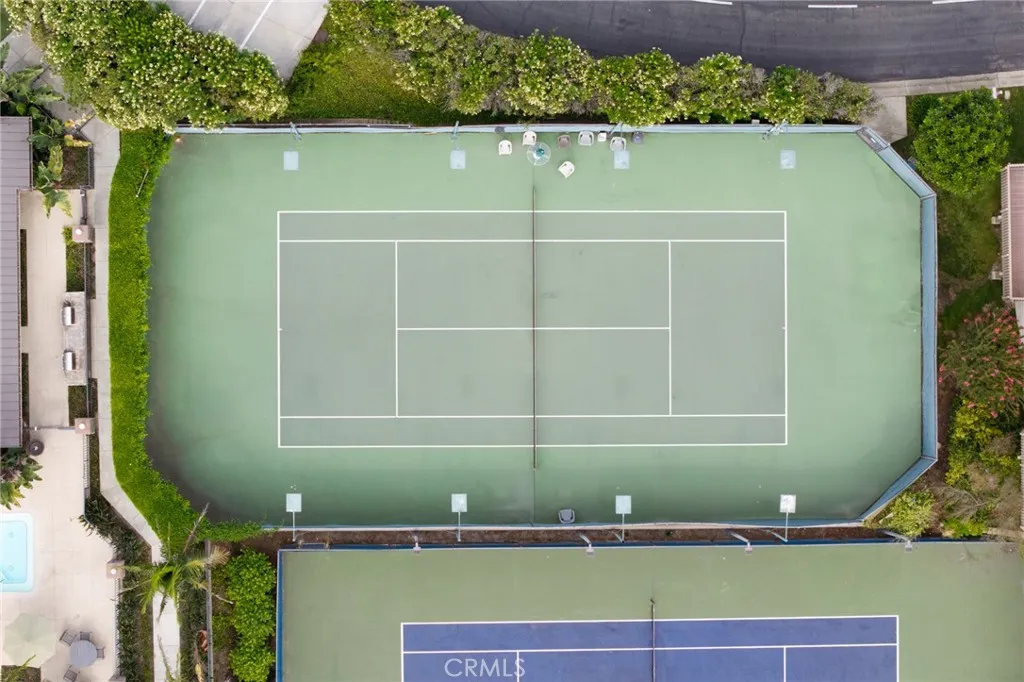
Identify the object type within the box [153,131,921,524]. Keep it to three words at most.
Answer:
tennis court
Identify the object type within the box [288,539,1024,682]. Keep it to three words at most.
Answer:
tennis court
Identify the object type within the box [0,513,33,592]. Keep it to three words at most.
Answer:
swimming pool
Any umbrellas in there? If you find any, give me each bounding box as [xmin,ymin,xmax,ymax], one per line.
[5,611,56,663]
